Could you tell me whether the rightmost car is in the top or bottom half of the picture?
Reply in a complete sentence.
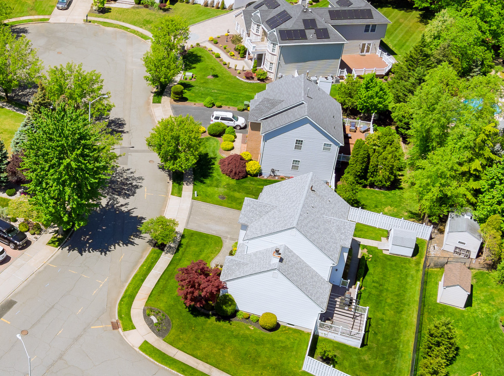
The rightmost car sits in the top half of the picture.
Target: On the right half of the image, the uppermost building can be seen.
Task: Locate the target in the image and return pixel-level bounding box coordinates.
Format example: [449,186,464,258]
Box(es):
[229,0,396,82]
